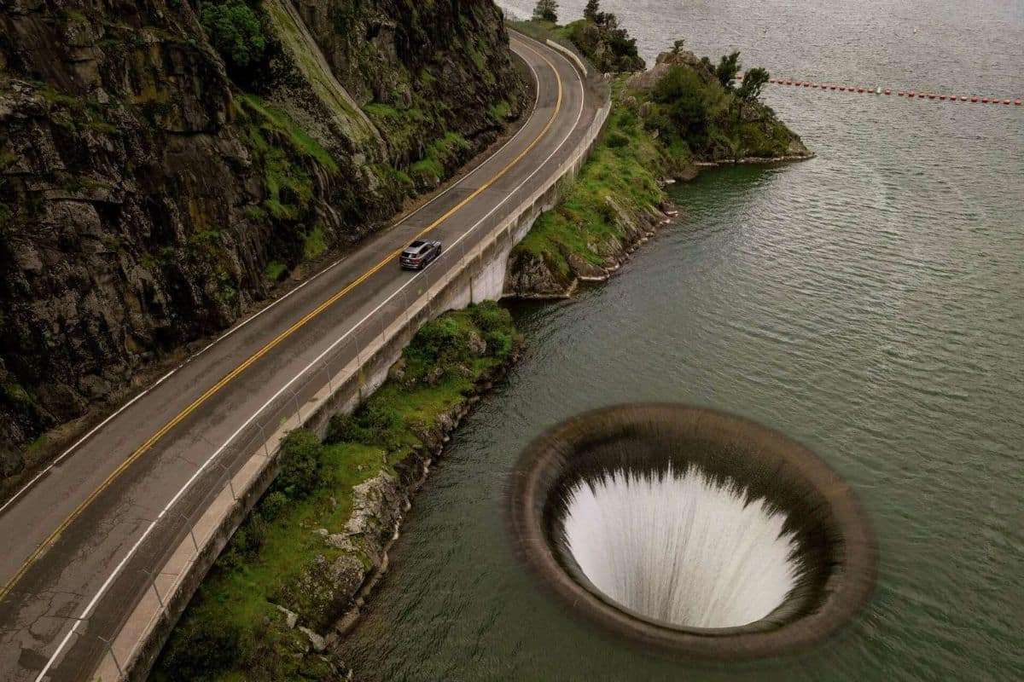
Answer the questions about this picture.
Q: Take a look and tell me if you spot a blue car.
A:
No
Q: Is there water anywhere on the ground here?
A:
Yes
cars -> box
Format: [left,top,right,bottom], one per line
[398,242,443,272]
